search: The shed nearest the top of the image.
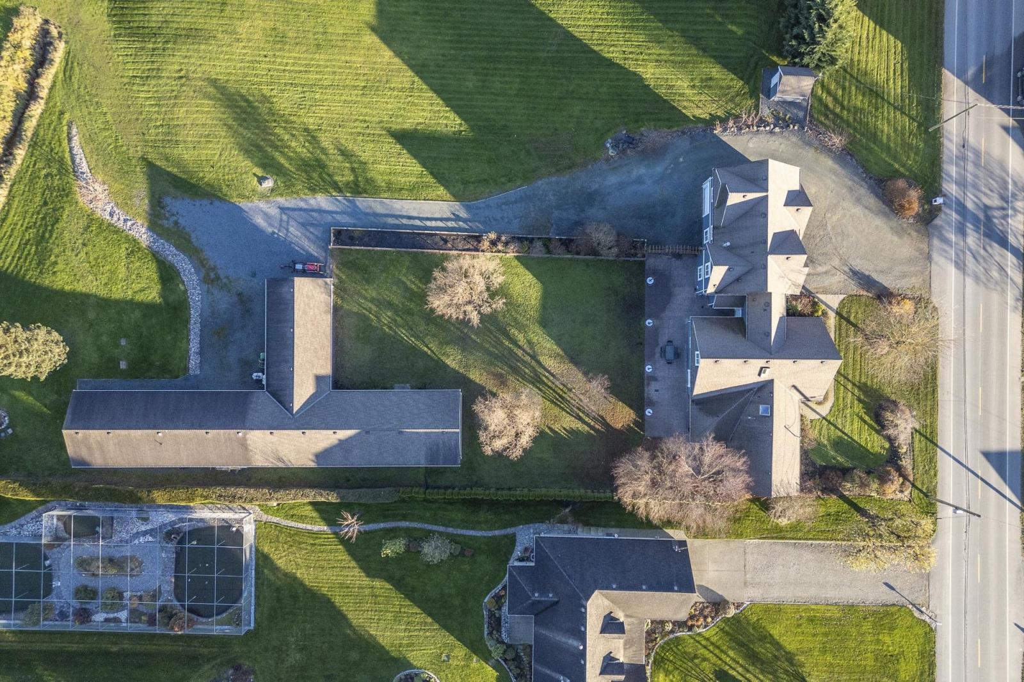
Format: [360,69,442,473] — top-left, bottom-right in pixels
[770,65,813,102]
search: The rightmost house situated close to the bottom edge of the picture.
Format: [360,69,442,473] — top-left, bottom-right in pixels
[505,532,696,682]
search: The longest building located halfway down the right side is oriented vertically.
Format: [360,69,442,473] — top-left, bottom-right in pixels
[683,158,842,498]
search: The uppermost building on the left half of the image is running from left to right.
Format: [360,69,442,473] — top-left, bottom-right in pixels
[62,277,461,471]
